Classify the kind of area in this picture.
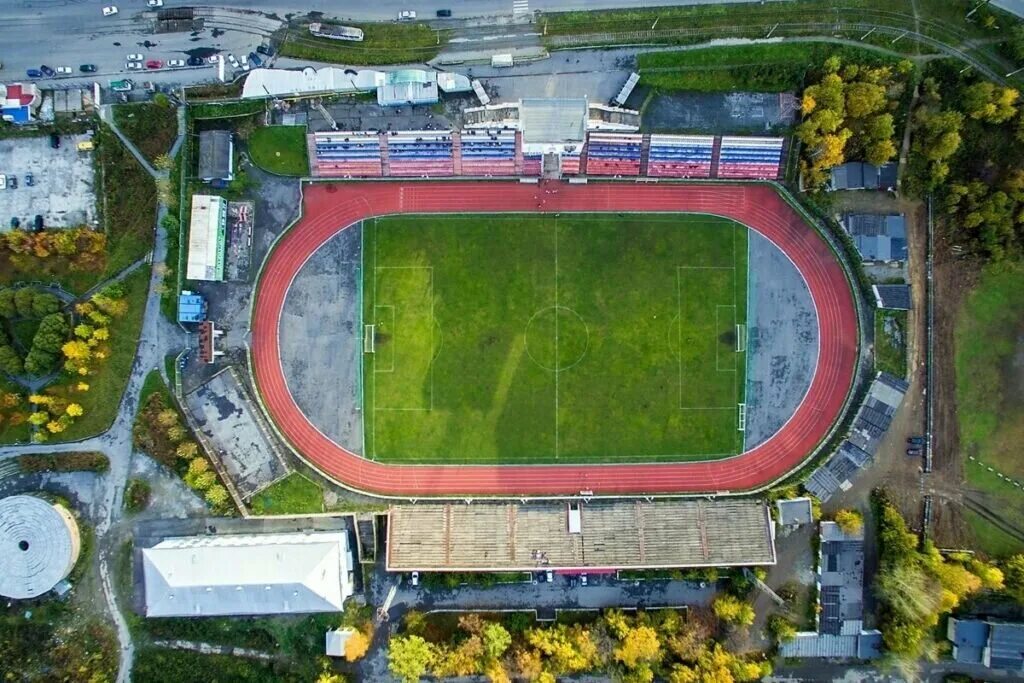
sports ground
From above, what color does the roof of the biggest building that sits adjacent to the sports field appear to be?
white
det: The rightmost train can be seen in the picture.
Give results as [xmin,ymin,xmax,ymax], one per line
[307,20,360,39]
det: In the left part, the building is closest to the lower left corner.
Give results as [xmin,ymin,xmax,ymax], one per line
[0,493,81,599]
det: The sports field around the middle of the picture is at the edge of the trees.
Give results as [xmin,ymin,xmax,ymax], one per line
[362,212,747,465]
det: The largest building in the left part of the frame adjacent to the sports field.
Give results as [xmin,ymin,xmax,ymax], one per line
[142,525,359,617]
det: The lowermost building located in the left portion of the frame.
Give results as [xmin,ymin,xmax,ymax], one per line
[326,625,354,658]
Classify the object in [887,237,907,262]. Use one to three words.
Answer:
building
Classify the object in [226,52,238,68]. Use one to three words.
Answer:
vehicle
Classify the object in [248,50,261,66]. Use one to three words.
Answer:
vehicle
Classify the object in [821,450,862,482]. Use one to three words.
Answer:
shed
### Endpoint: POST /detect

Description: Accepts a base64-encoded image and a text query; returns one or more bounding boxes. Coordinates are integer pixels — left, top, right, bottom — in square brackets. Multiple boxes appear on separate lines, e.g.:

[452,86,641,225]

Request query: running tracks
[252,180,858,495]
